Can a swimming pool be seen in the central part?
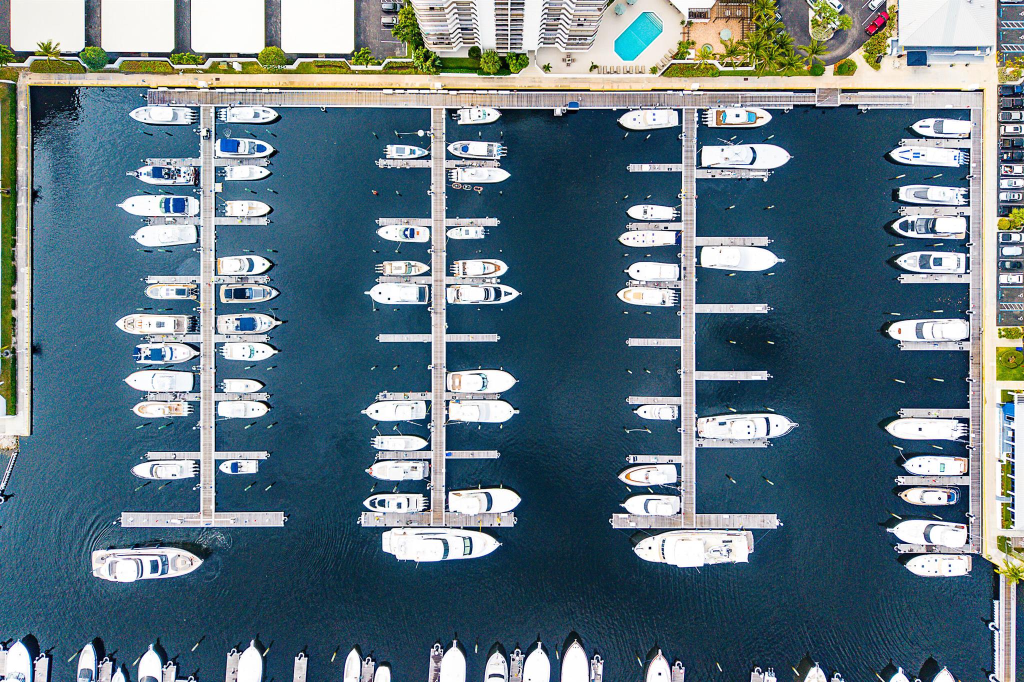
No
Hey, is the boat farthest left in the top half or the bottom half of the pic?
bottom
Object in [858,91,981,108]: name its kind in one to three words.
pier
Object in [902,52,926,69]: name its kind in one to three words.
tent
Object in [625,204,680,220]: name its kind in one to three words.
boat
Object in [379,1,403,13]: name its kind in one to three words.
vehicle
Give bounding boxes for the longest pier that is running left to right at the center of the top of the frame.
[144,90,869,112]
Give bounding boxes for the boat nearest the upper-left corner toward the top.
[129,106,200,124]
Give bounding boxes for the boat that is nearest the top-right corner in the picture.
[909,115,971,139]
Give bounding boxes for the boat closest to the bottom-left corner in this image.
[4,638,35,682]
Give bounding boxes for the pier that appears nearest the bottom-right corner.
[995,572,1016,682]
